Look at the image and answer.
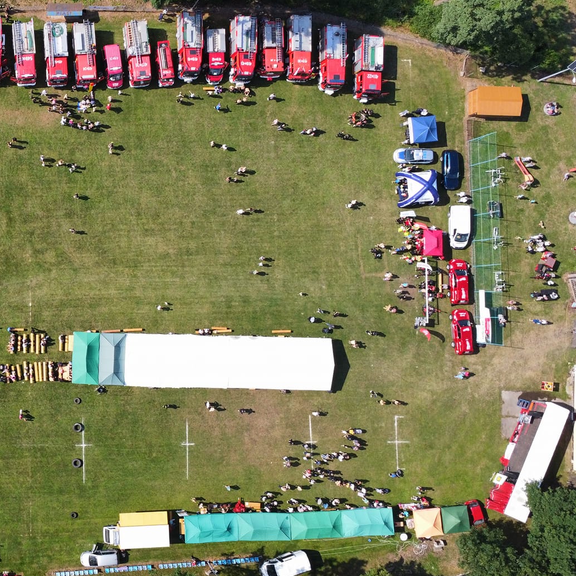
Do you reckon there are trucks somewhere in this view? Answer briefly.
Yes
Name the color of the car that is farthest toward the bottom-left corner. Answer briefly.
white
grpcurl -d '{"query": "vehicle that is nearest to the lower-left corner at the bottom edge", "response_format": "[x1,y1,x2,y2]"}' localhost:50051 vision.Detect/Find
[80,543,118,569]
